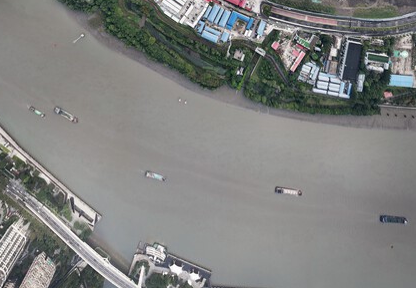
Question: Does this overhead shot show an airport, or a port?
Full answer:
What you see here is a port.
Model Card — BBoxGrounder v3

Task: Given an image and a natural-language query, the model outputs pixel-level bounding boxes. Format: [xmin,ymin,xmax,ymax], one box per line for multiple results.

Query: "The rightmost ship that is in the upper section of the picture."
[54,106,78,123]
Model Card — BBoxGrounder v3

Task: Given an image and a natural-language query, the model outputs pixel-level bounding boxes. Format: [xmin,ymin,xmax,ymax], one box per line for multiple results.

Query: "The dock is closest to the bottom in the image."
[155,254,212,287]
